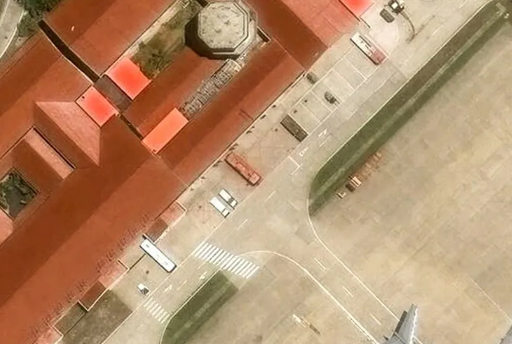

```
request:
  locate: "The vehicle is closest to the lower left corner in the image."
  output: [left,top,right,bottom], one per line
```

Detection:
[137,282,151,296]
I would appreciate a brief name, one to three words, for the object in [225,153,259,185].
truck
